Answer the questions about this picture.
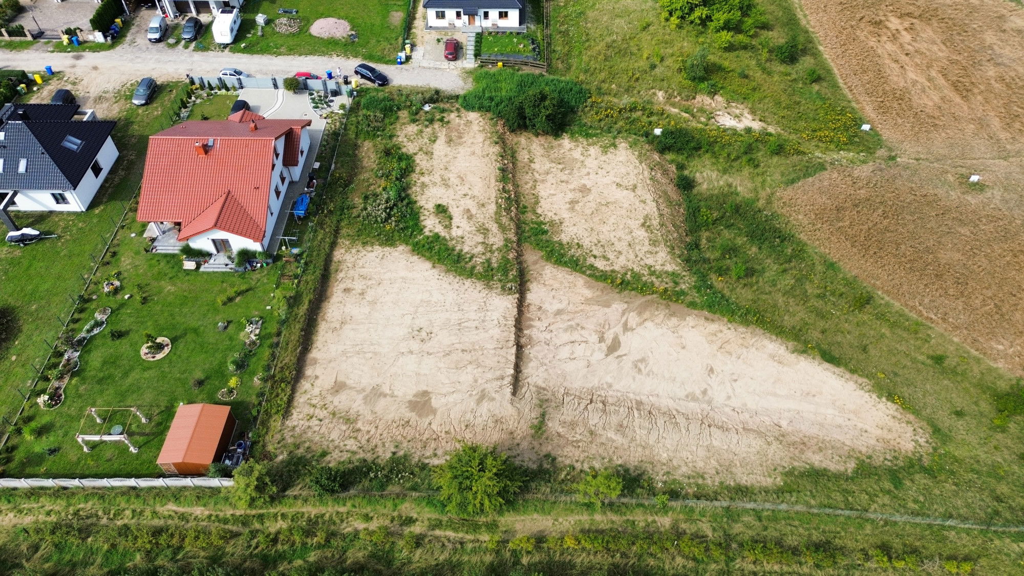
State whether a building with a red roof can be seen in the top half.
Yes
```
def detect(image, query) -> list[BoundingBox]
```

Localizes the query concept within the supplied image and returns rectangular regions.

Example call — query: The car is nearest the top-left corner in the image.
[49,88,76,103]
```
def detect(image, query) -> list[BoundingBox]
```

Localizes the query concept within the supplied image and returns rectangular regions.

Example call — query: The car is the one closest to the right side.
[443,39,459,59]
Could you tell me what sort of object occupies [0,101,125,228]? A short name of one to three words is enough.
house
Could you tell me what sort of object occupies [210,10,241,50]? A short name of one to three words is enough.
camper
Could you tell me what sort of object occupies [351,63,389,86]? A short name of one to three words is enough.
car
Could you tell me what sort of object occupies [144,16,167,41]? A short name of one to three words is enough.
vehicle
